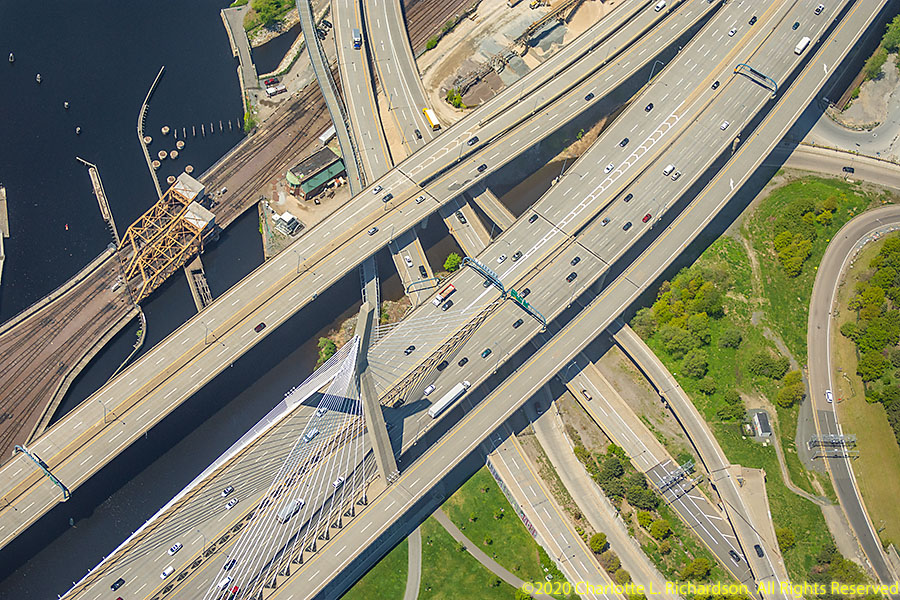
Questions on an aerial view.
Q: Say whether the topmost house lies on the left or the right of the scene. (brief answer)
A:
left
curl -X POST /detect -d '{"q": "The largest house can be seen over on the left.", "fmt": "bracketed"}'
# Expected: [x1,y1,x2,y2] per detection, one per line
[283,146,345,203]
